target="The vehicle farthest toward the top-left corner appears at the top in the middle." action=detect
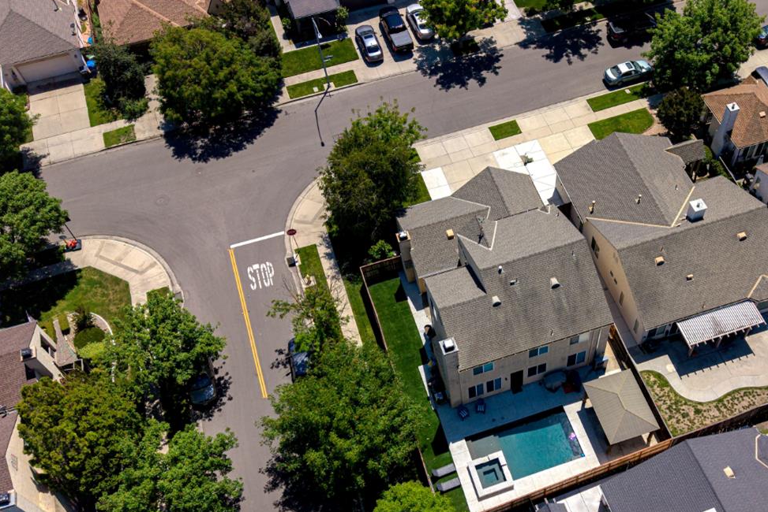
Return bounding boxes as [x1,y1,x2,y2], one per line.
[355,27,383,59]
